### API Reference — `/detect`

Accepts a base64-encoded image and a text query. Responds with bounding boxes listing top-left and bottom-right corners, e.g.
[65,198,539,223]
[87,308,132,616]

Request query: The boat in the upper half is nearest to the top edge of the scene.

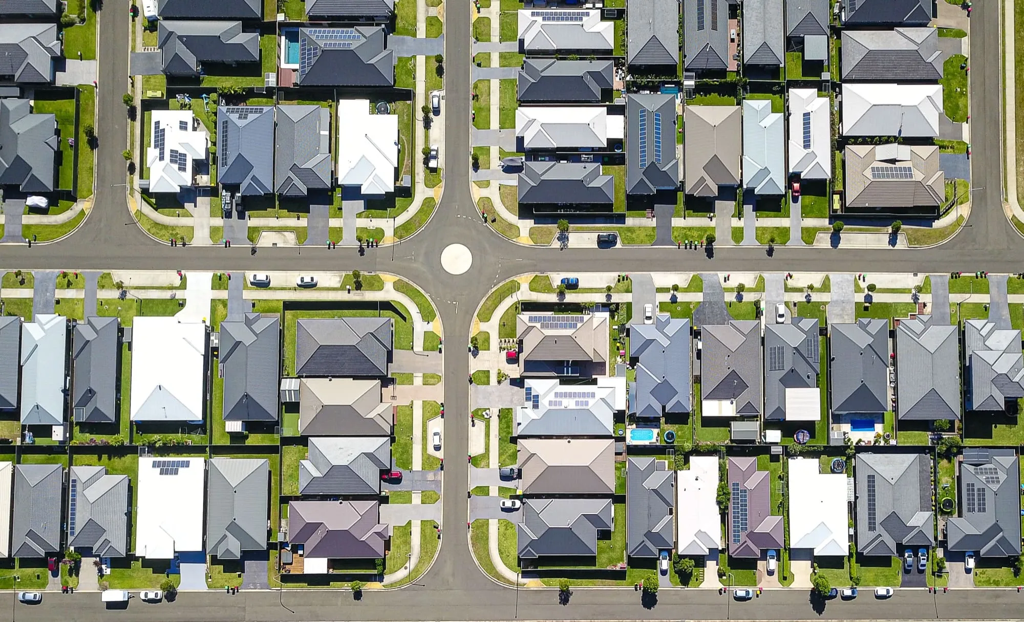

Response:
[497,156,525,168]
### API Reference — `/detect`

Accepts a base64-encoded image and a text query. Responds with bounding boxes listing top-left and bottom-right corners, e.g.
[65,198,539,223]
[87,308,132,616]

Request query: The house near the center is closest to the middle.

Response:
[517,311,609,378]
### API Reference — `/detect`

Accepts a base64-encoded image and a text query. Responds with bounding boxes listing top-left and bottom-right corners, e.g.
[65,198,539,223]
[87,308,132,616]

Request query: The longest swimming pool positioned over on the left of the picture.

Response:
[281,27,299,68]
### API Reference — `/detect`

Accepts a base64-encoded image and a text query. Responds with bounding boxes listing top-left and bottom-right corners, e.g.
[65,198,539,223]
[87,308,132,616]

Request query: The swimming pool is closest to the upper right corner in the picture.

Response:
[656,83,680,100]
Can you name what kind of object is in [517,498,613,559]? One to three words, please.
house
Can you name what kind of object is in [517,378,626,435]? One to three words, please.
house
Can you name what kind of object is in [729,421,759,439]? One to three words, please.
shed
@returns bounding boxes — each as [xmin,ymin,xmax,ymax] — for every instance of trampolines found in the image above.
[941,498,958,511]
[664,430,676,442]
[1005,400,1024,416]
[831,459,845,472]
[794,429,811,444]
[374,98,389,114]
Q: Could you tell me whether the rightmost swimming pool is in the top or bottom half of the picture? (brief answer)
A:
bottom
